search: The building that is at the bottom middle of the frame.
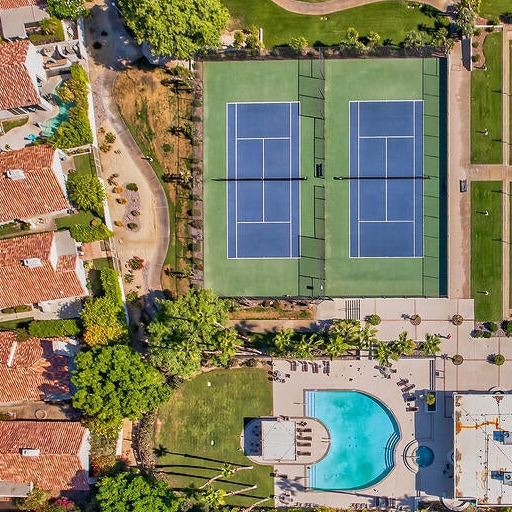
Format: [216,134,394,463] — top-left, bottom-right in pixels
[261,421,301,461]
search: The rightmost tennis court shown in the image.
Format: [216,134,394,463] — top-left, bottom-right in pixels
[325,60,448,297]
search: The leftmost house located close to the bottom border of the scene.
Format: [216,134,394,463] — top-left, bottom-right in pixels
[0,421,96,496]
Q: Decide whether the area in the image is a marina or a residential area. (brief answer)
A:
residential area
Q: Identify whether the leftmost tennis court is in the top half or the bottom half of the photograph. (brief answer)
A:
top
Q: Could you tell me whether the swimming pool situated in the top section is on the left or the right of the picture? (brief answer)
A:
left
